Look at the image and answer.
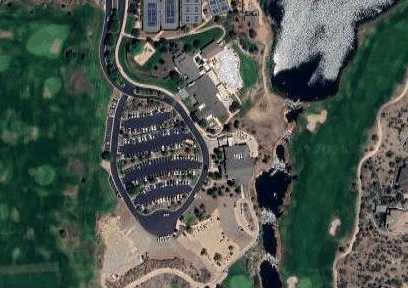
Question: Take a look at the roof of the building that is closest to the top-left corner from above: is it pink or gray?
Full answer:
The color of the roof of the building that is closest to the top-left corner is gray.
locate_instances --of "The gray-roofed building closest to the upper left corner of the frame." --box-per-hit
[173,41,229,129]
